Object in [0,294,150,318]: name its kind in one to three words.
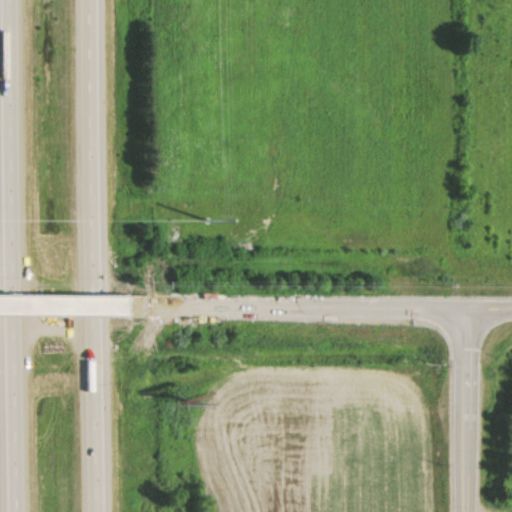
overpass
